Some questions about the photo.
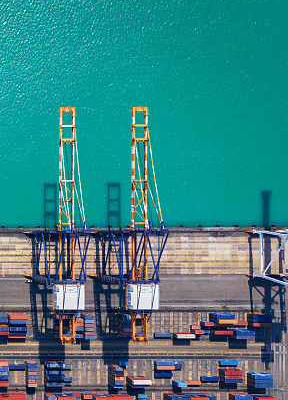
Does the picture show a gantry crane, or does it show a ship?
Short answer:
gantry crane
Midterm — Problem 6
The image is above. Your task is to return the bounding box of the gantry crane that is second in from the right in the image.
[89,106,169,345]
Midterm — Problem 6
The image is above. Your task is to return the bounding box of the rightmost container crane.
[242,230,288,281]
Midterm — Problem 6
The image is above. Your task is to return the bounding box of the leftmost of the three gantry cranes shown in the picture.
[24,107,93,345]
